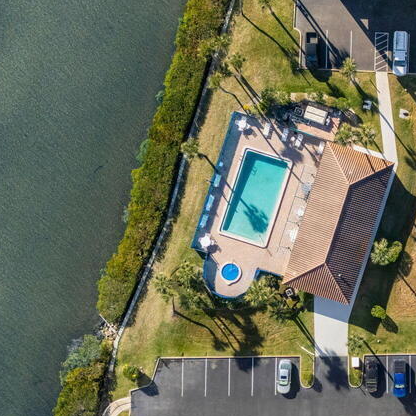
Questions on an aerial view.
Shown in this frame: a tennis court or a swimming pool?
swimming pool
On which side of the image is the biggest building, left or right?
right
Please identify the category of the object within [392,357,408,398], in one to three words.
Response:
vehicle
